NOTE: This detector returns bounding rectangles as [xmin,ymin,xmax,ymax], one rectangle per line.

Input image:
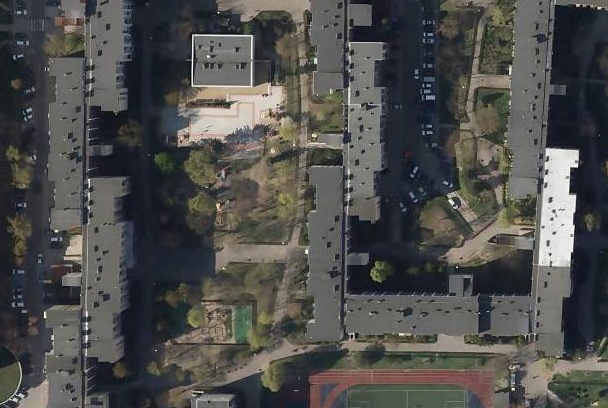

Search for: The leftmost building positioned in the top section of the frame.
[48,57,84,232]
